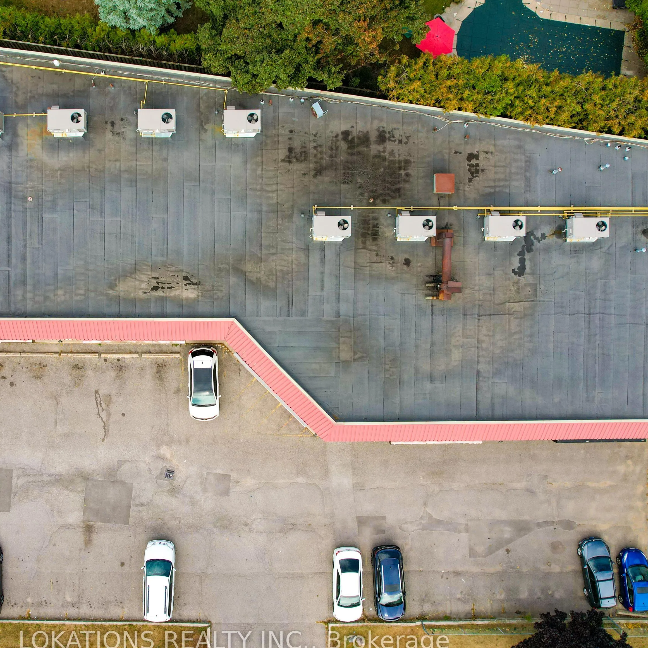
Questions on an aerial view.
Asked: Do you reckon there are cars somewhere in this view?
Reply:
Yes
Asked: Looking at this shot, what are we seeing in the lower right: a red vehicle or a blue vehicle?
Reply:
blue vehicle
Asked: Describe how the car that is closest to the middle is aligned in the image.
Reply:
vertically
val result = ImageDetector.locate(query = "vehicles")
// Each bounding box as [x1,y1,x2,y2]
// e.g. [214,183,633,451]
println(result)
[331,546,367,622]
[140,540,178,620]
[577,536,620,611]
[184,345,222,422]
[372,543,410,623]
[617,548,648,611]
